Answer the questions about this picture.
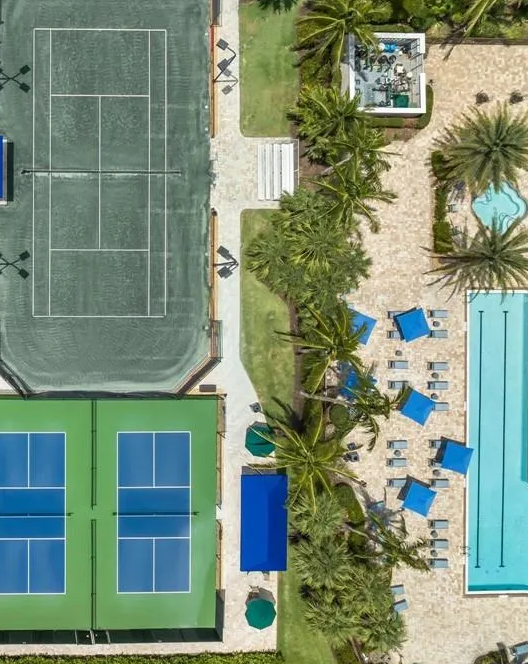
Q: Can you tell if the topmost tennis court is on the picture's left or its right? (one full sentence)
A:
You can find the topmost tennis court on the left side of the picture.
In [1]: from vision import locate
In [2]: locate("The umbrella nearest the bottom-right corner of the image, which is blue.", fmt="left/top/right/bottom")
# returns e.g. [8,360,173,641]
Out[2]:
[399,479,438,518]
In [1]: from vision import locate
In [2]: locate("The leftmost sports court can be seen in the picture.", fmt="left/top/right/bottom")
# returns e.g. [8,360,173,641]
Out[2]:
[0,397,92,630]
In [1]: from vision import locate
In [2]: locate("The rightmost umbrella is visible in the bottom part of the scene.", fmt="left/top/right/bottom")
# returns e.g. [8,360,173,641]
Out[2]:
[436,438,475,475]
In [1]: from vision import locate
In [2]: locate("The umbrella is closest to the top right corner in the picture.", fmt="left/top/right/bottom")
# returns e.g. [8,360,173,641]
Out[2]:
[393,307,430,343]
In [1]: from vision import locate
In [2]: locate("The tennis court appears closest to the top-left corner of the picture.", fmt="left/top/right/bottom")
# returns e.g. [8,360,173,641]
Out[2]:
[0,0,216,392]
